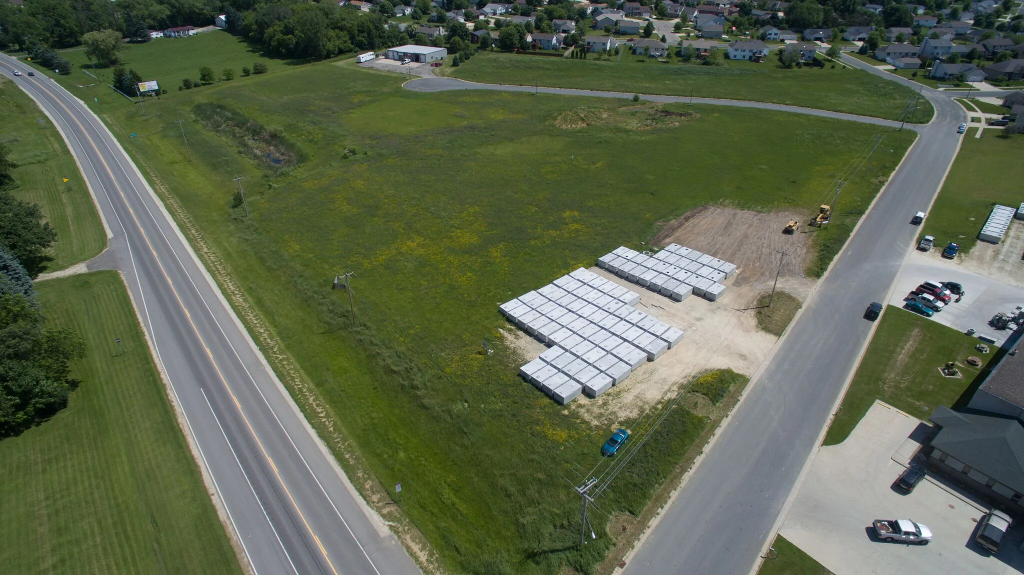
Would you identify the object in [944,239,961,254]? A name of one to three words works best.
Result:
vehicle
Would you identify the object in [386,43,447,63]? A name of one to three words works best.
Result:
building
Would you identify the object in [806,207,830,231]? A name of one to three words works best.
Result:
work vehicle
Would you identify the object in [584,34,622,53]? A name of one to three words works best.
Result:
house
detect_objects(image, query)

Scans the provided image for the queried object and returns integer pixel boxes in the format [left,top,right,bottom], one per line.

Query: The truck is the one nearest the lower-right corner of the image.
[978,507,1015,547]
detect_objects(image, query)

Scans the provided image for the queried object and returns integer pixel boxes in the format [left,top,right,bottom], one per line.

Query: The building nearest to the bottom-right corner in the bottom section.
[925,405,1024,516]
